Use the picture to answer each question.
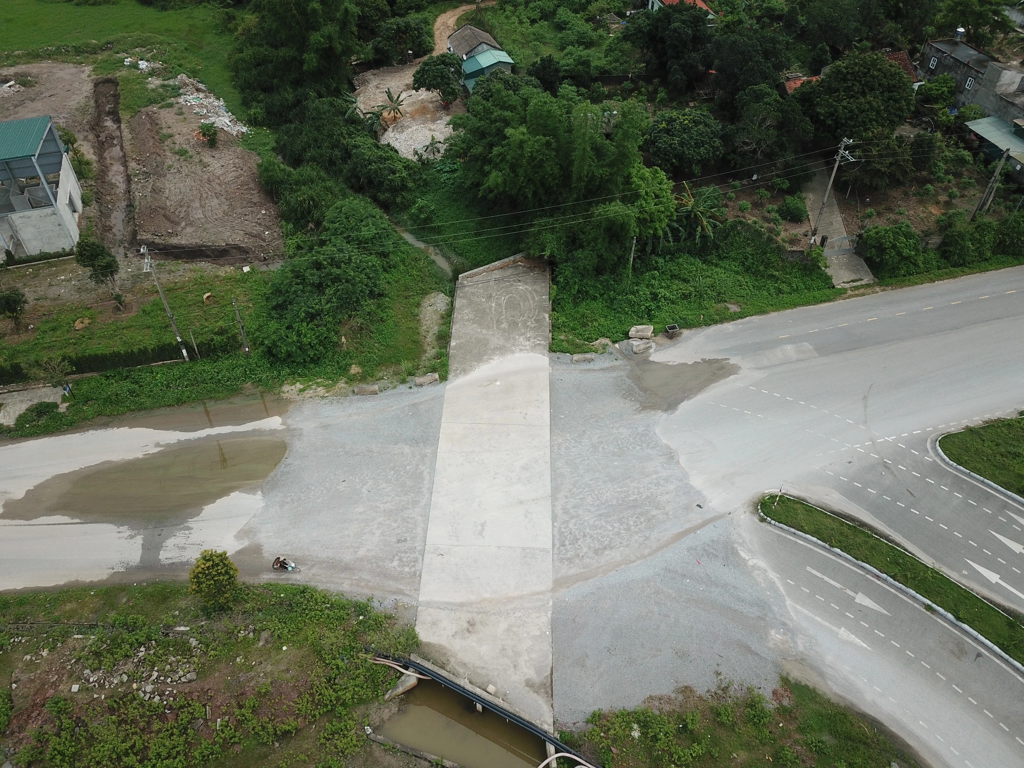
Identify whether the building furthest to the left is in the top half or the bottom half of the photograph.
top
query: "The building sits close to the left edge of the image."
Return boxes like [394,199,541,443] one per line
[0,115,85,266]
